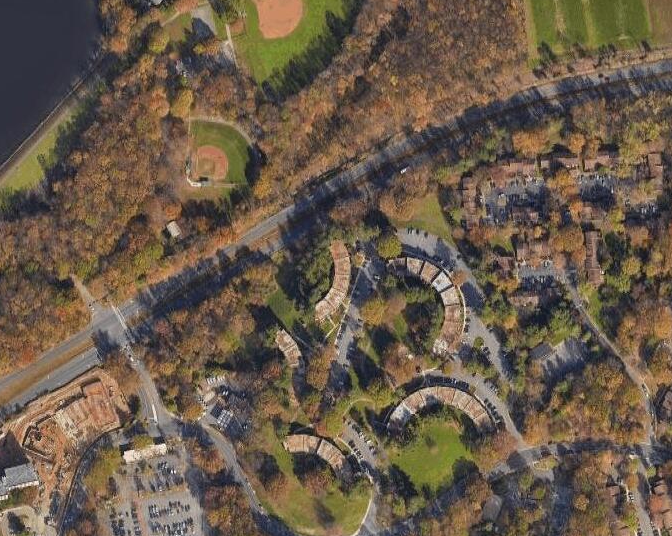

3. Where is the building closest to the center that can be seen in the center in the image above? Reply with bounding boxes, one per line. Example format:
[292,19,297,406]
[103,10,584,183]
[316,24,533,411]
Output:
[315,238,352,327]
